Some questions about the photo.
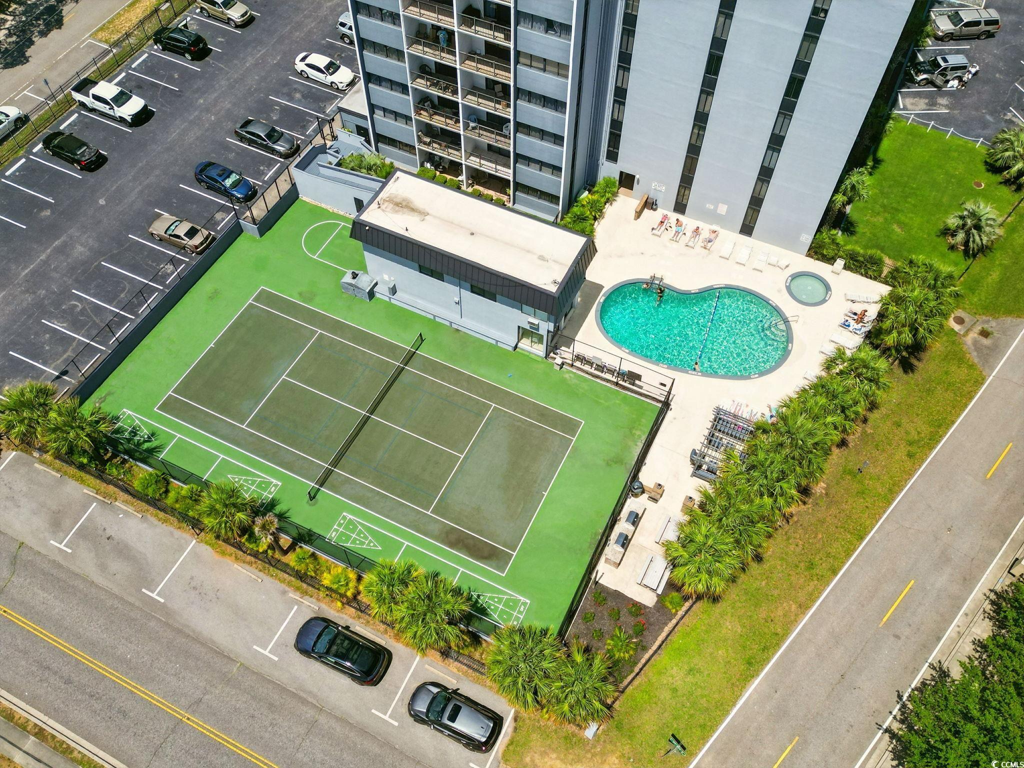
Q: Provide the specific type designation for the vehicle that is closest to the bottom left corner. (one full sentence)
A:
I'd say the vehicle that is closest to the bottom left corner is a car.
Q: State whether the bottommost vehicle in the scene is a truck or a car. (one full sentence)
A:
It turns out the bottommost vehicle is a car.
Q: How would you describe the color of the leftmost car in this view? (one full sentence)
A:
The color of the leftmost car is white.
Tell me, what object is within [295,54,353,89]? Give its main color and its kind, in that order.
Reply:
white car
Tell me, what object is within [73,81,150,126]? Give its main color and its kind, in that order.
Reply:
white truck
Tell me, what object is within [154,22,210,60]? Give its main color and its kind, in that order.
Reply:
black car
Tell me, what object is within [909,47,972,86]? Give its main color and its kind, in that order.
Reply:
gray car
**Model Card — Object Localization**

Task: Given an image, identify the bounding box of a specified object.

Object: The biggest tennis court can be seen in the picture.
[75,196,661,663]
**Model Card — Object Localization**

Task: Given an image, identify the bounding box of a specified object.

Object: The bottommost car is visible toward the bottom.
[408,681,506,756]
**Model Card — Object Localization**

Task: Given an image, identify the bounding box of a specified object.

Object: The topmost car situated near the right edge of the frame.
[932,8,1002,42]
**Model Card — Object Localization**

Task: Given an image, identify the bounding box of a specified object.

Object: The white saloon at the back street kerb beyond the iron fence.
[0,105,26,136]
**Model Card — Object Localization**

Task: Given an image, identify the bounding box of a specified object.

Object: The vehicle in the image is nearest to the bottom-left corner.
[293,616,388,687]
